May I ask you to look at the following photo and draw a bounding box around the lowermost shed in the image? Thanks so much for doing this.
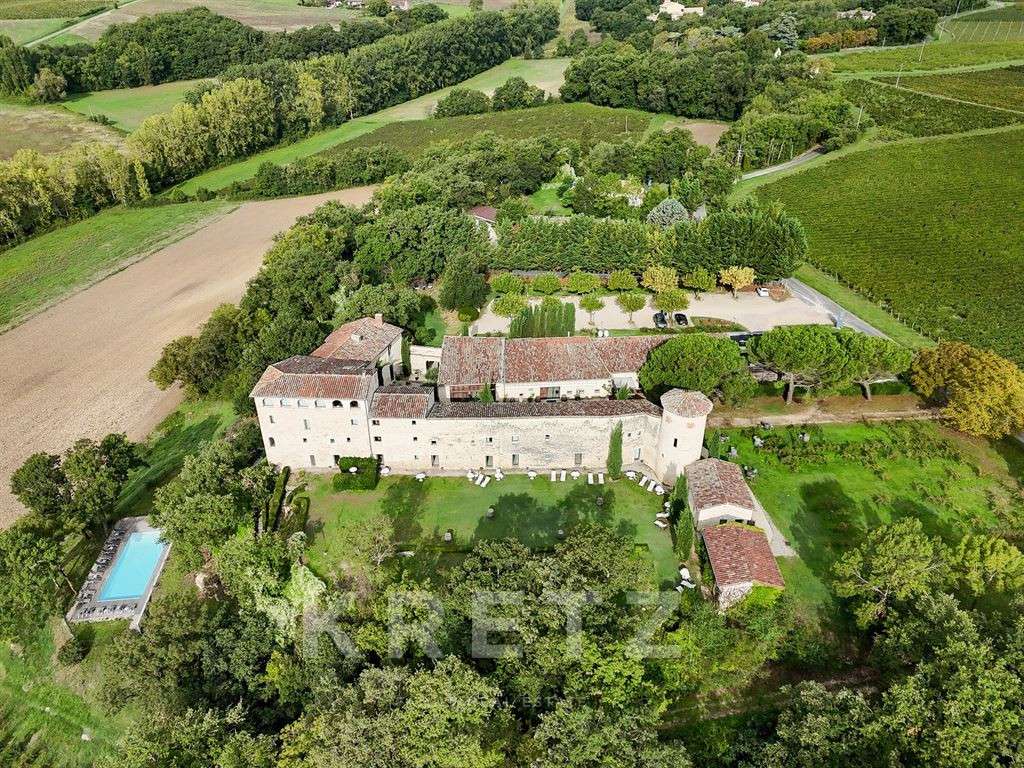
[701,522,784,602]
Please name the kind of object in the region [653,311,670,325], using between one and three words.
car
